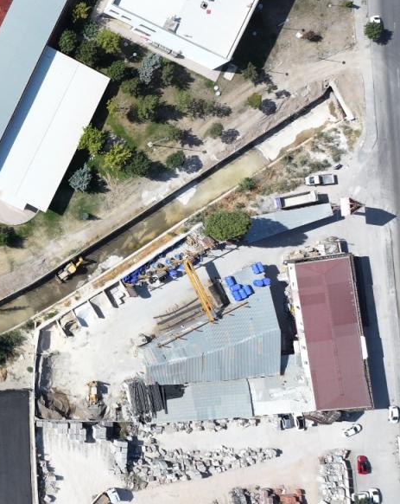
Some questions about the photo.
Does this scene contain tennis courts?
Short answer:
No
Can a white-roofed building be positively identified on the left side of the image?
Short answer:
Yes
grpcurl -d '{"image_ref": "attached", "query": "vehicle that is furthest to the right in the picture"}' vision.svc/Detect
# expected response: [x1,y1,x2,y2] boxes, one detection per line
[387,405,399,424]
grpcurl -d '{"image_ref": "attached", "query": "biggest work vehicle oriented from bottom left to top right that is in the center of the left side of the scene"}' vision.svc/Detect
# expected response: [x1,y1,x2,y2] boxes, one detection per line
[52,261,84,284]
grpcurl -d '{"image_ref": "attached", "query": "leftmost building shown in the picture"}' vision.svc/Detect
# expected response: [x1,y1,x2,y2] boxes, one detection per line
[0,46,110,226]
